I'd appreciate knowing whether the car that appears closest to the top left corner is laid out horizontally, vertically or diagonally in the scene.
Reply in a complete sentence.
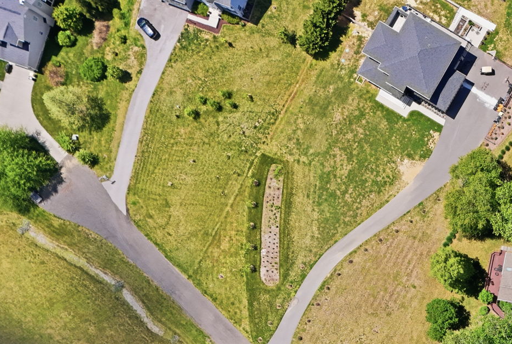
What the image shows is the car that appears closest to the top left corner lying diagonally.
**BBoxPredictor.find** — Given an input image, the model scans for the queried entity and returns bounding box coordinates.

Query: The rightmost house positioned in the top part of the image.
[354,3,470,115]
